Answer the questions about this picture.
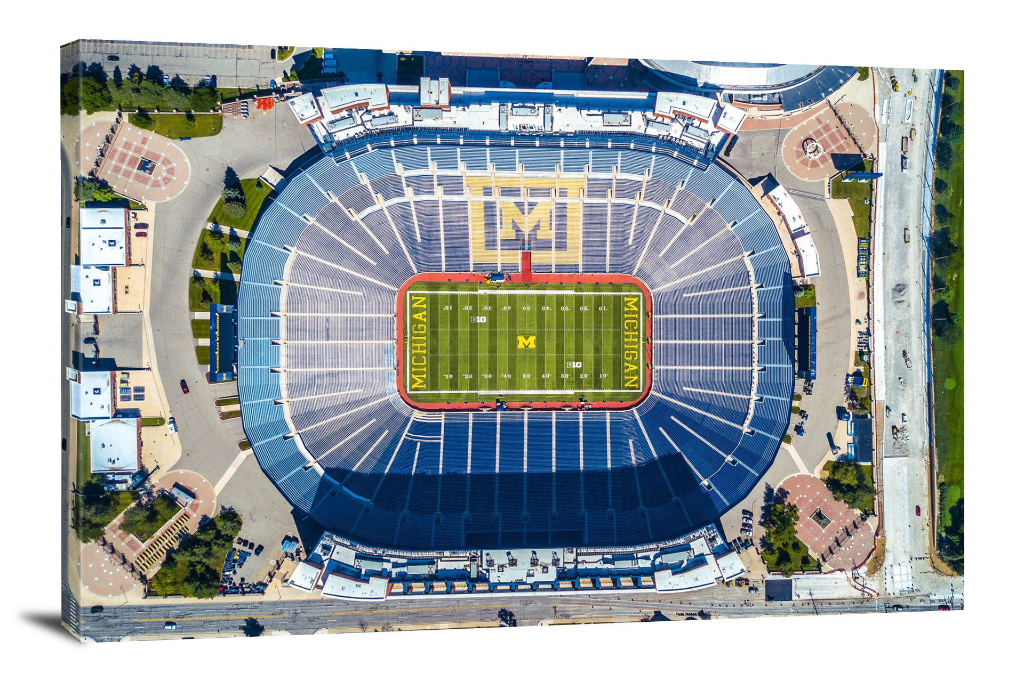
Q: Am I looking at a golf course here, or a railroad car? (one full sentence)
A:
Looking from above, you can make out a golf course.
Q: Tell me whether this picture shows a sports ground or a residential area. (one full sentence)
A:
This image shows a sports ground.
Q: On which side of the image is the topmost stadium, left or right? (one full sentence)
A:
The topmost stadium is on the right side of the image.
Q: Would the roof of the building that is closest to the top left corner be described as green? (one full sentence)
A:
No, from above the roof of the building that is closest to the top left corner looks white.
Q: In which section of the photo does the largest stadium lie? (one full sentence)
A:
The largest stadium is in the center part of the image.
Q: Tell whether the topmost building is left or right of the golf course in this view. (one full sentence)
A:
The topmost building appears to the left of the golf course in this view.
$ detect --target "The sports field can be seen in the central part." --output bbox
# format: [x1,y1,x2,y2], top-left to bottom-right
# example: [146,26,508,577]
[397,273,652,411]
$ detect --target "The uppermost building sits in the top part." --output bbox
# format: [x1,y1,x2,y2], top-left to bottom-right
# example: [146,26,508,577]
[762,184,807,235]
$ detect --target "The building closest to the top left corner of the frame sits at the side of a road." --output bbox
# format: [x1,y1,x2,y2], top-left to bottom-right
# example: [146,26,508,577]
[81,208,133,266]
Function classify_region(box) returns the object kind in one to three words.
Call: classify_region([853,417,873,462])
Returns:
shed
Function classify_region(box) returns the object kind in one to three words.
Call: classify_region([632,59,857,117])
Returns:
stadium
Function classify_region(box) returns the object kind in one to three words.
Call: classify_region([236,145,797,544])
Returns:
stadium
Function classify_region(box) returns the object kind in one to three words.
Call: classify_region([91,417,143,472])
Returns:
building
